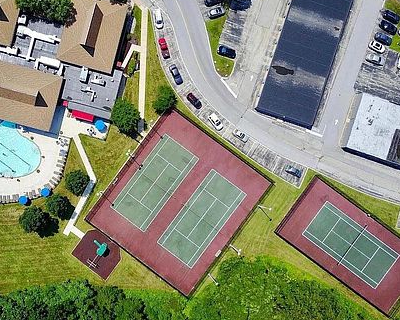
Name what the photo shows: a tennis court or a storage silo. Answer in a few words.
tennis court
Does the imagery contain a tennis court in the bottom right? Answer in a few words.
Yes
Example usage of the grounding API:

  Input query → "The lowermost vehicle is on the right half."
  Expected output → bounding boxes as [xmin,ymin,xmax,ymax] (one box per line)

[283,164,302,177]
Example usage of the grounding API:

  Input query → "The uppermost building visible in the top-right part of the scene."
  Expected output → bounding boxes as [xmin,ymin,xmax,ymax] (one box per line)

[252,0,357,130]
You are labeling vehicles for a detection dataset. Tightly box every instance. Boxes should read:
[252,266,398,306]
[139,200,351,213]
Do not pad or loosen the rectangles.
[367,43,385,54]
[152,9,164,30]
[206,114,223,131]
[186,92,201,110]
[206,7,226,19]
[381,11,400,24]
[283,164,302,177]
[204,0,223,7]
[377,21,397,34]
[372,34,392,46]
[158,38,169,60]
[363,53,382,64]
[231,129,249,145]
[217,47,236,58]
[169,65,181,84]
